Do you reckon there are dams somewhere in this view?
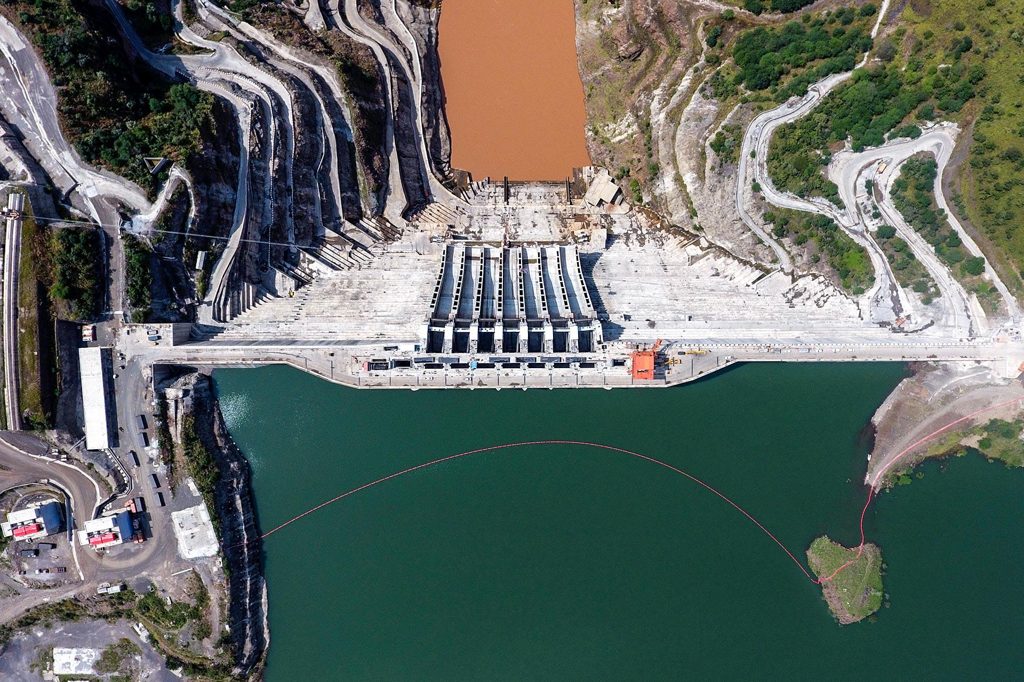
Yes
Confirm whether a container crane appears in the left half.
No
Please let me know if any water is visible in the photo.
Yes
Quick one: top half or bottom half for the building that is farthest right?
top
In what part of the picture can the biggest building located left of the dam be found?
left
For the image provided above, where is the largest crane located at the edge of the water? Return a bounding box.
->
[628,337,664,379]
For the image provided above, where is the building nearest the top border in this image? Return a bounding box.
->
[581,172,631,210]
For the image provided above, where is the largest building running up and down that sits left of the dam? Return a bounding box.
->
[79,347,116,450]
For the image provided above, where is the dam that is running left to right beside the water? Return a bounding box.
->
[119,166,993,408]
